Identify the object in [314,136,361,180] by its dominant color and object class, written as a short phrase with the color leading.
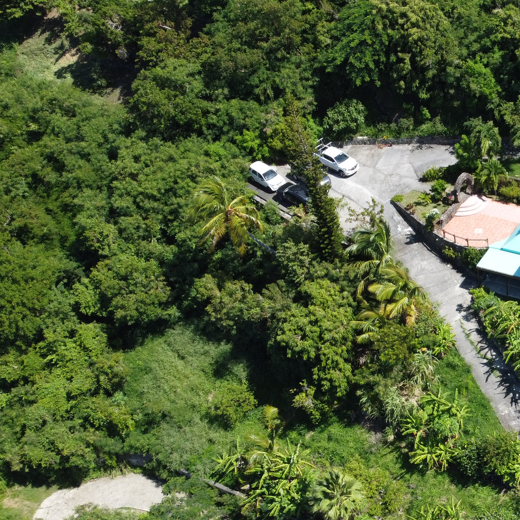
white truck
